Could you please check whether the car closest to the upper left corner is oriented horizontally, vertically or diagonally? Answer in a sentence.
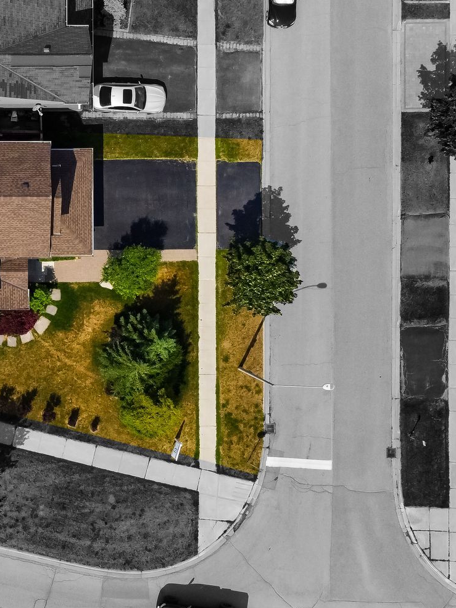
What the image shows is the car closest to the upper left corner lying horizontally.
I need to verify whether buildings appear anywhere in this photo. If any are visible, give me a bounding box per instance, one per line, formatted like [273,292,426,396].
[0,140,96,312]
[0,0,94,118]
